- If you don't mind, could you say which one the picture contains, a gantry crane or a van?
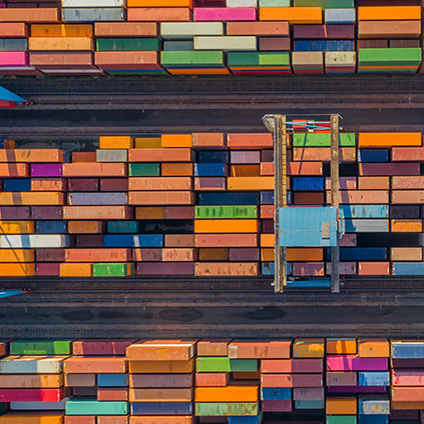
gantry crane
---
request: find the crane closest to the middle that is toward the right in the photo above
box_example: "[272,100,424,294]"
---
[268,109,346,288]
